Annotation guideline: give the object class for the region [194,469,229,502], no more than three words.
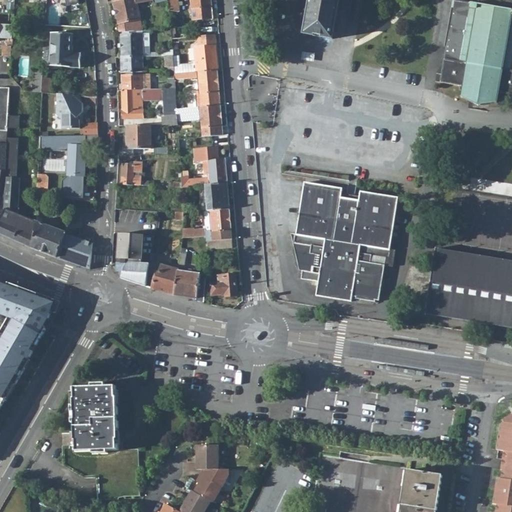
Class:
house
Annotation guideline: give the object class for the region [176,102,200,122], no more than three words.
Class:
building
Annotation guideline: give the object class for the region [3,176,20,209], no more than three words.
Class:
shed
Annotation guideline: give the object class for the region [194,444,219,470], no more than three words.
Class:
house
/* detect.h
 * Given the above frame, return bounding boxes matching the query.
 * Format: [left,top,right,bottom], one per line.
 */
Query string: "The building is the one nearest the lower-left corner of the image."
[62,380,118,454]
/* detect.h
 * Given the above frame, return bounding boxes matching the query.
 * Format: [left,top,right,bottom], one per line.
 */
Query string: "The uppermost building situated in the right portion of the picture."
[300,0,337,40]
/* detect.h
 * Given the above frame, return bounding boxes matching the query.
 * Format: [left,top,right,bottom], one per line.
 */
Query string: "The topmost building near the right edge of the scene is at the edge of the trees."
[436,0,512,112]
